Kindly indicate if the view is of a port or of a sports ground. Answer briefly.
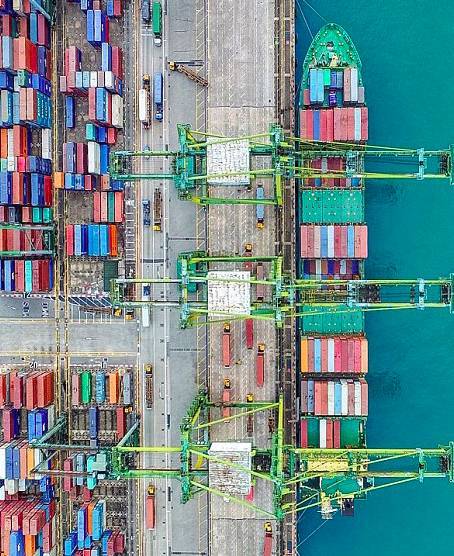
port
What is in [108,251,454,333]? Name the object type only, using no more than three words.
container crane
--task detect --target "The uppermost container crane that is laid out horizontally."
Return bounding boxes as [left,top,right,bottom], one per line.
[107,121,454,217]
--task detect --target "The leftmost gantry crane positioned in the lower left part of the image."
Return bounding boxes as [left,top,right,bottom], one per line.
[28,412,140,477]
